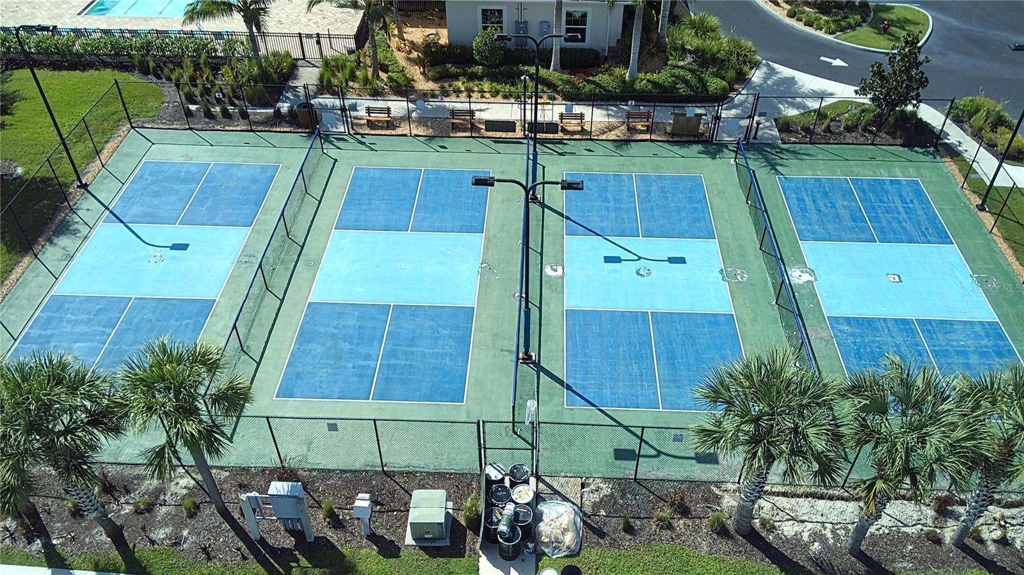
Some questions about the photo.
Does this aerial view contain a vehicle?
No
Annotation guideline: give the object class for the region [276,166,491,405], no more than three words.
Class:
sports court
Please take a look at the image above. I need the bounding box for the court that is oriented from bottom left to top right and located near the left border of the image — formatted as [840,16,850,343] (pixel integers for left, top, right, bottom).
[0,155,280,393]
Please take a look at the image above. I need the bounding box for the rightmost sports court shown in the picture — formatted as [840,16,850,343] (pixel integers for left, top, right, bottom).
[776,175,1024,423]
